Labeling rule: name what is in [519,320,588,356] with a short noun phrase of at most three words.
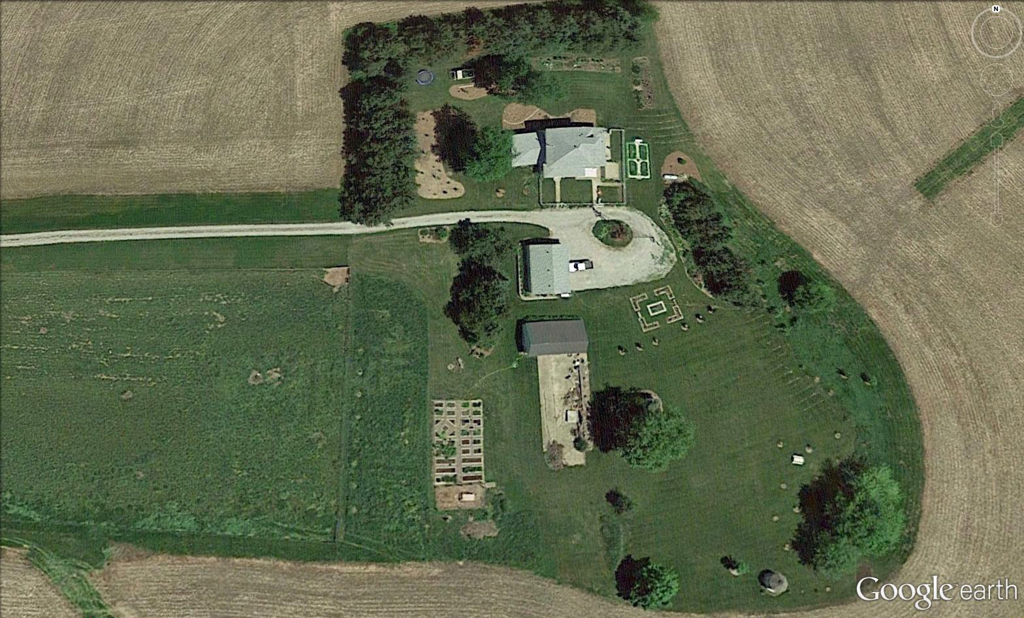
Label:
shed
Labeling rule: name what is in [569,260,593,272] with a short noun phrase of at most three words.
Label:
vehicle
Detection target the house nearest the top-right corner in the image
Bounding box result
[507,128,607,178]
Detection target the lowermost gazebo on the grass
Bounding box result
[764,568,788,596]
